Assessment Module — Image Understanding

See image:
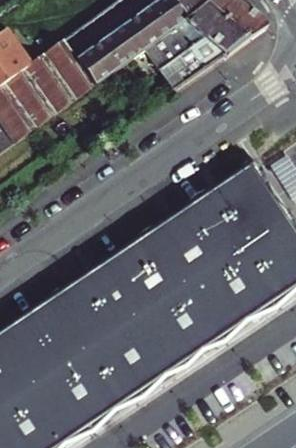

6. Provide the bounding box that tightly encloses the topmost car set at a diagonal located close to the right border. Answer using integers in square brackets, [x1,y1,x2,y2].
[267,354,284,374]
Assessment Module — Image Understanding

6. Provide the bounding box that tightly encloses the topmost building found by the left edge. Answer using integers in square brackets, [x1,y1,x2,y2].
[0,26,33,84]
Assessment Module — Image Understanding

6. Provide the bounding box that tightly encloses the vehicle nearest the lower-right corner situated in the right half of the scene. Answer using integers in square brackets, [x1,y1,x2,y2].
[276,386,293,406]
